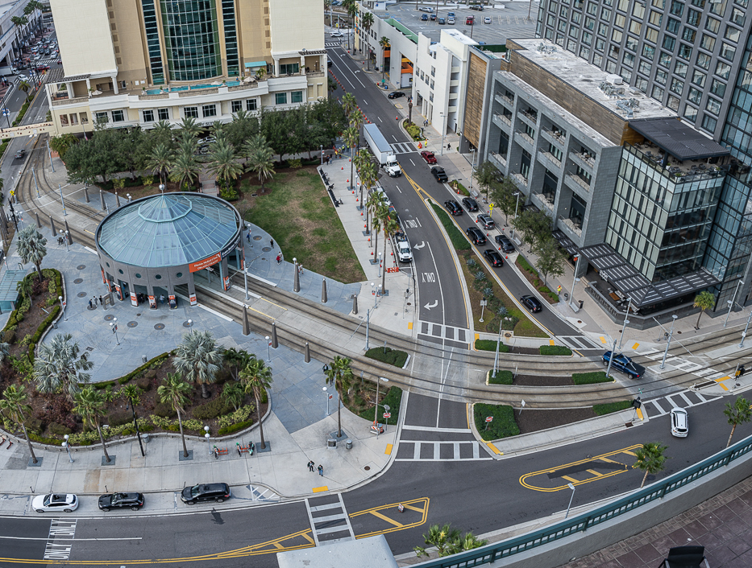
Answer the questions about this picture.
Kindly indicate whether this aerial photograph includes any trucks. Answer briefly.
Yes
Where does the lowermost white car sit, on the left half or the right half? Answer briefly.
left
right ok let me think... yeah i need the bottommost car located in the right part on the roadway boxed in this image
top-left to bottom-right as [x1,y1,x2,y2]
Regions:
[668,410,691,440]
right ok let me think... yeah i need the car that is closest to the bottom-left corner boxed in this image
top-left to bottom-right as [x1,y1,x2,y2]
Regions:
[32,492,79,516]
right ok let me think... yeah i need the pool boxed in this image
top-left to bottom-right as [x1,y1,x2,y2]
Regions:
[146,80,240,93]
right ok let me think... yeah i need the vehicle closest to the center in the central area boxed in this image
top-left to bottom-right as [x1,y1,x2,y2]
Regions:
[397,241,412,263]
